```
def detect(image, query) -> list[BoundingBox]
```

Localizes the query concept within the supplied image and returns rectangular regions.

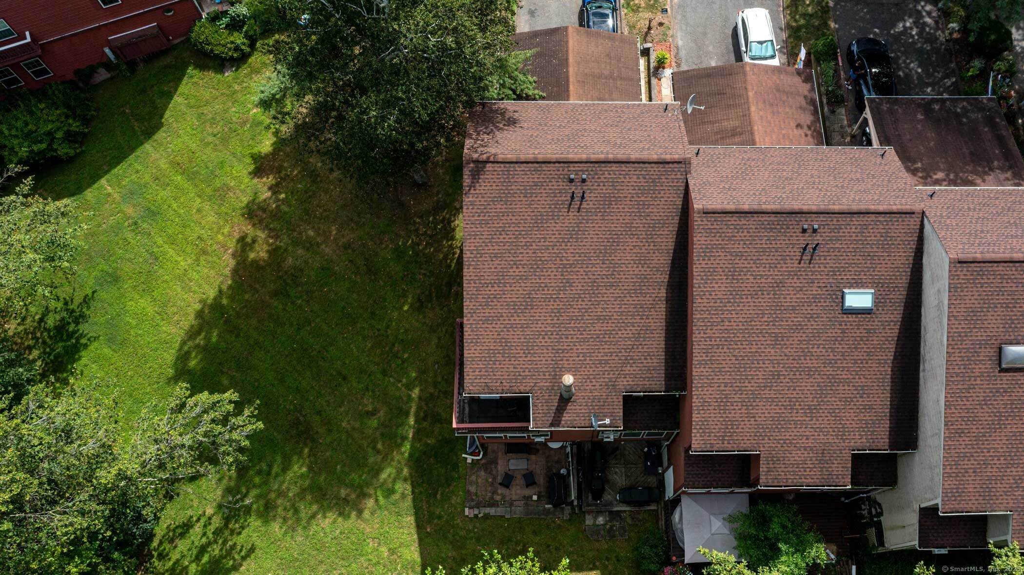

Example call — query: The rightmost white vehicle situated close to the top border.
[734,6,784,66]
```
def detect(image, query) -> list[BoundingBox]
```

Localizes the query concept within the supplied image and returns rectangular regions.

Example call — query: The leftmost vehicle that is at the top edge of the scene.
[578,0,622,35]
